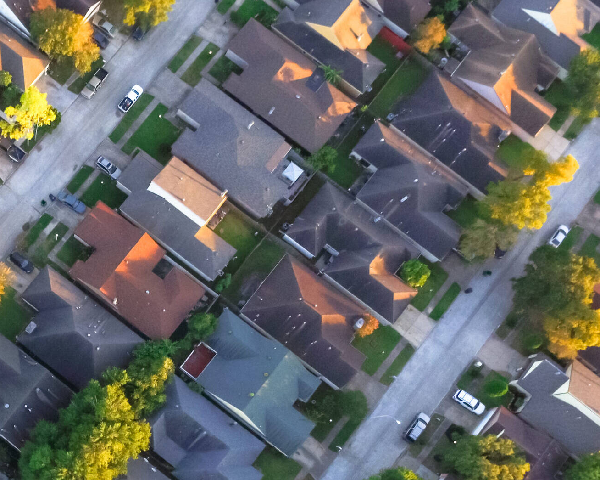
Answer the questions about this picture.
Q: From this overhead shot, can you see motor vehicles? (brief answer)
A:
Yes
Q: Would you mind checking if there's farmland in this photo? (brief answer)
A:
No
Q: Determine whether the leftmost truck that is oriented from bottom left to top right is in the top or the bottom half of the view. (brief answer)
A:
top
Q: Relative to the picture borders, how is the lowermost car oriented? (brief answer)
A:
diagonally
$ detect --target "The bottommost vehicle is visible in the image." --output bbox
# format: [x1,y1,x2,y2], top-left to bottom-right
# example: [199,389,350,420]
[398,409,433,446]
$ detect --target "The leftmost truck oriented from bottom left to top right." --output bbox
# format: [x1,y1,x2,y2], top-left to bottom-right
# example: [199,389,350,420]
[76,61,114,104]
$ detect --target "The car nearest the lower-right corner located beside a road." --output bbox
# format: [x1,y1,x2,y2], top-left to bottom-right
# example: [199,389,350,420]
[450,386,486,417]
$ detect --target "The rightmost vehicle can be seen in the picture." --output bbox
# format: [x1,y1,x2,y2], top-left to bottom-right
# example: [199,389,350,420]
[545,219,572,242]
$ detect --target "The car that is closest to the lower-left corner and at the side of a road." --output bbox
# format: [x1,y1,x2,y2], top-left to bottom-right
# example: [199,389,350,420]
[2,246,38,278]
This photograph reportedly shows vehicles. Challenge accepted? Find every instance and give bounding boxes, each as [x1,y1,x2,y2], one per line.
[76,61,114,104]
[545,219,572,242]
[110,78,148,121]
[93,9,125,39]
[89,150,123,183]
[92,28,119,55]
[0,131,30,168]
[450,386,486,417]
[2,246,38,278]
[398,409,433,446]
[53,187,88,218]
